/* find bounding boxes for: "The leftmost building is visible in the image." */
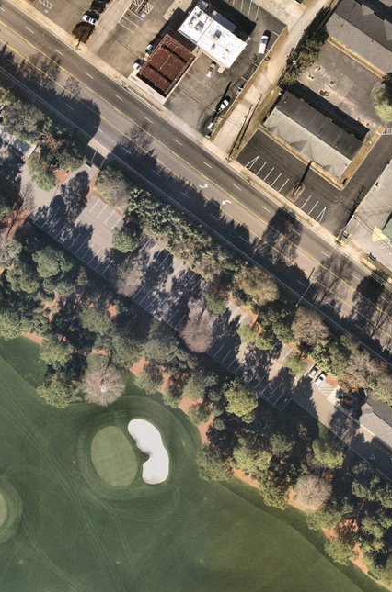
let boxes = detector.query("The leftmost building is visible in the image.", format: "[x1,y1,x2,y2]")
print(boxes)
[140,33,195,91]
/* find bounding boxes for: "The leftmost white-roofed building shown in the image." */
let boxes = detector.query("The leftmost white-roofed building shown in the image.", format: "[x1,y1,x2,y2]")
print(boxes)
[179,0,260,68]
